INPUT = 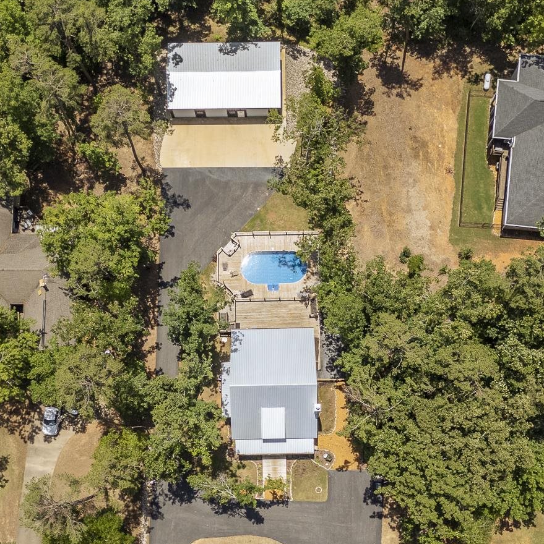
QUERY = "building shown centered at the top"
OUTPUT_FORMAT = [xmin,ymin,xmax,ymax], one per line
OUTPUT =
[168,42,282,117]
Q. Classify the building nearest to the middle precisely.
house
